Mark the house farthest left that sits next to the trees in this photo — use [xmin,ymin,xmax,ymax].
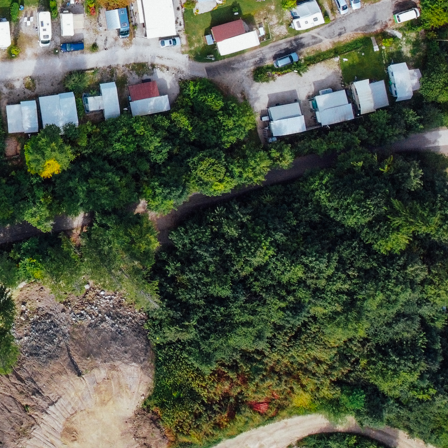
[5,101,37,133]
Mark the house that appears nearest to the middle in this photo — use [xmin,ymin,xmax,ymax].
[264,102,307,137]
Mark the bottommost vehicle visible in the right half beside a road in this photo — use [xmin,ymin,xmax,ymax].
[274,52,299,67]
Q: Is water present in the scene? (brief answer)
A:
No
